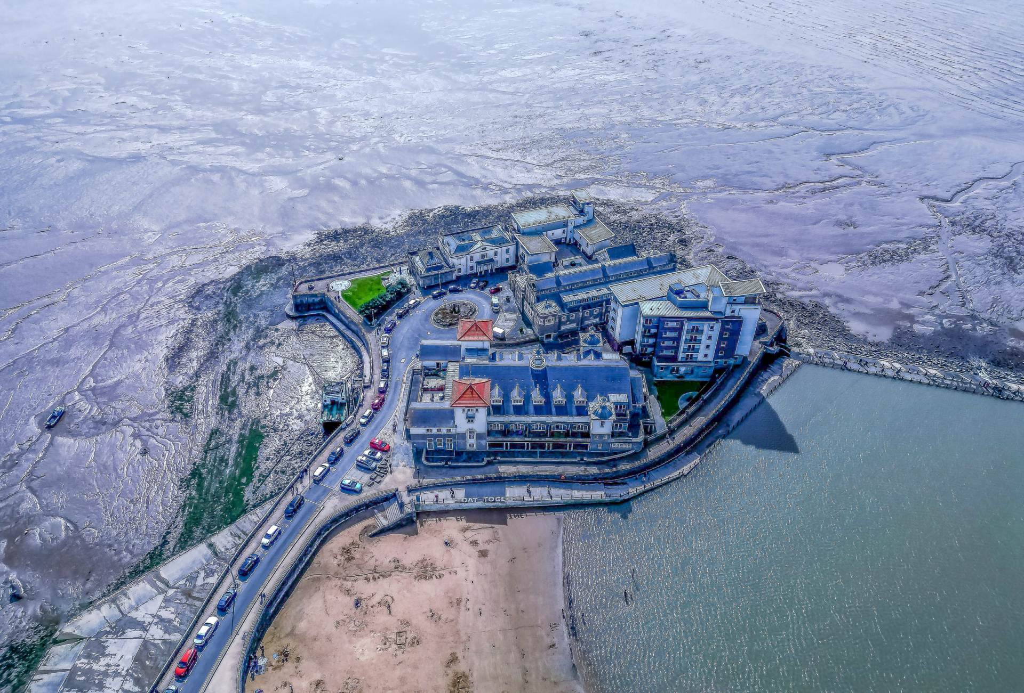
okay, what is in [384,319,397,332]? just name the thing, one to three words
vehicle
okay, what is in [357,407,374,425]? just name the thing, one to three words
car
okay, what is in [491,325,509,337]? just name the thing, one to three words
vehicle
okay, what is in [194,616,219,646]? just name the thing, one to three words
car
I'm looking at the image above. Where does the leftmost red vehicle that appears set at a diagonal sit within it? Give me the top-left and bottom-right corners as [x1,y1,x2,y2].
[173,647,199,678]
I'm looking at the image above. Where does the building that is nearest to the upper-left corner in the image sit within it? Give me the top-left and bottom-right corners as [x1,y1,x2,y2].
[408,245,455,287]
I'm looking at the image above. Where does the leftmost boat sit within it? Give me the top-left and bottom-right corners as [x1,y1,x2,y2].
[36,406,69,428]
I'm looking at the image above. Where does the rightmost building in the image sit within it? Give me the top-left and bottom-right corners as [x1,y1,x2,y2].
[607,264,766,382]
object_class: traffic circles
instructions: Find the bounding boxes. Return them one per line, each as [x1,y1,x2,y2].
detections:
[432,300,479,327]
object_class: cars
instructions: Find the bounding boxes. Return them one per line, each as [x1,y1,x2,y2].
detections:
[384,319,397,332]
[488,284,505,293]
[371,394,384,409]
[407,296,422,309]
[237,554,259,576]
[214,587,238,615]
[396,305,411,319]
[379,333,389,345]
[326,445,345,463]
[338,479,364,493]
[173,647,199,678]
[378,364,388,379]
[361,448,385,462]
[194,616,219,646]
[369,438,390,452]
[447,284,463,292]
[476,279,489,290]
[380,348,389,362]
[311,463,331,482]
[491,298,500,310]
[468,277,479,288]
[343,428,360,444]
[429,289,448,298]
[357,407,374,425]
[355,455,376,470]
[283,495,305,517]
[260,525,281,546]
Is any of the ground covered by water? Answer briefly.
Yes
